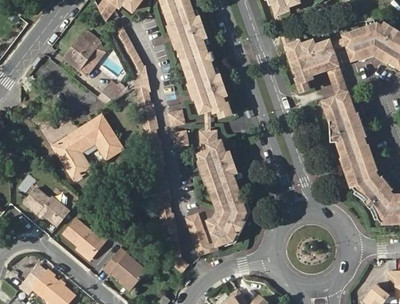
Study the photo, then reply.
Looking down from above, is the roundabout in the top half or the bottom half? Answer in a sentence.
The bottom half of the photo is where the roundabout is.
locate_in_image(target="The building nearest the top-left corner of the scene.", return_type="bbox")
[61,26,106,74]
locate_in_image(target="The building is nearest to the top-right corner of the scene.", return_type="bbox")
[340,22,400,72]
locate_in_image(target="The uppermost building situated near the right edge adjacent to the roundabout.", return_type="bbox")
[323,93,400,226]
